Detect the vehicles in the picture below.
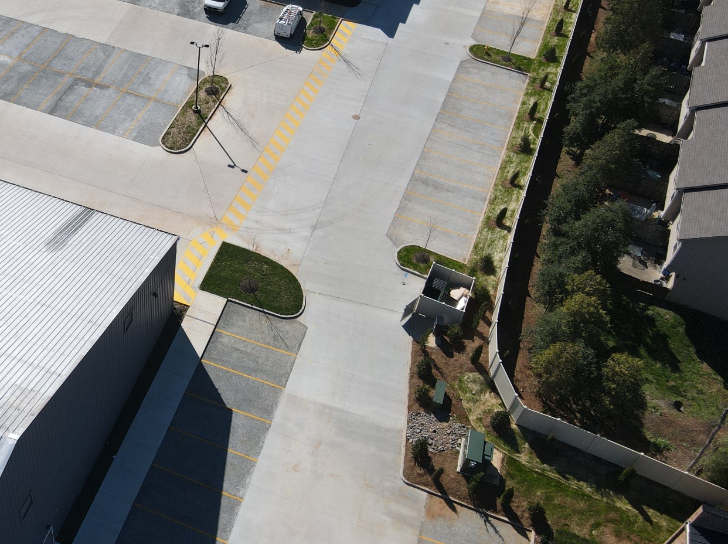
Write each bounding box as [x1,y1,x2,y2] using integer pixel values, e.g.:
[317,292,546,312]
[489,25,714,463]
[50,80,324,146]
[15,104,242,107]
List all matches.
[273,0,305,34]
[203,0,229,12]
